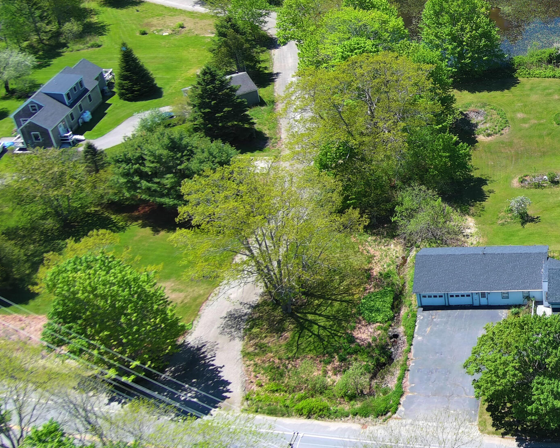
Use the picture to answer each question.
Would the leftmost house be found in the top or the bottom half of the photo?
top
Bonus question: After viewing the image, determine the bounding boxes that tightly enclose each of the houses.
[7,55,119,148]
[413,245,560,332]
